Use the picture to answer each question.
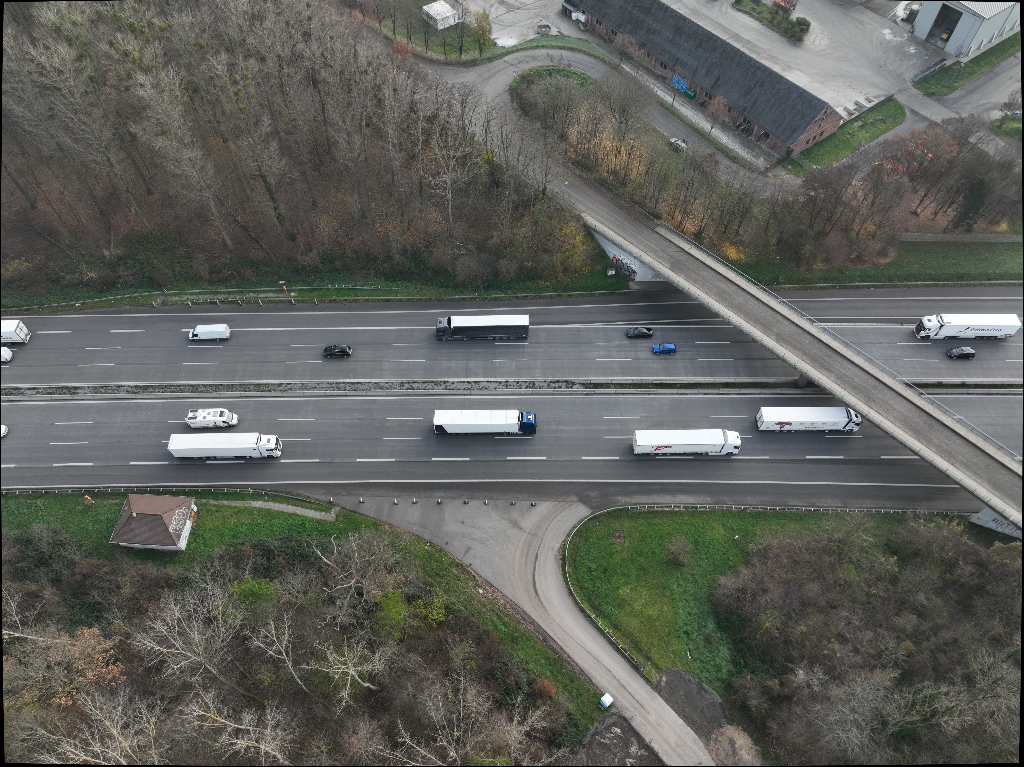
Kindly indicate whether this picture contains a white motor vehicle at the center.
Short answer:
Yes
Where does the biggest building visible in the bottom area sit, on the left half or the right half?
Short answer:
left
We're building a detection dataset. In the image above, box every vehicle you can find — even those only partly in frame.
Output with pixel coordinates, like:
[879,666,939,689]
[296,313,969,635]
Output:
[167,433,283,461]
[0,320,31,346]
[435,314,529,340]
[653,342,677,355]
[755,407,866,434]
[323,346,351,358]
[0,425,9,437]
[434,410,538,437]
[626,326,654,338]
[949,346,977,359]
[0,349,13,361]
[913,313,1021,339]
[188,323,230,341]
[632,430,742,457]
[186,407,237,428]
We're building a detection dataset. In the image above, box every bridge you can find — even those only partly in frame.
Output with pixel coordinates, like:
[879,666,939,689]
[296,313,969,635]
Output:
[568,165,1024,541]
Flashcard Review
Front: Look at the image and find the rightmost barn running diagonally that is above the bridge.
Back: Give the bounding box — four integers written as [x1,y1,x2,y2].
[563,0,847,155]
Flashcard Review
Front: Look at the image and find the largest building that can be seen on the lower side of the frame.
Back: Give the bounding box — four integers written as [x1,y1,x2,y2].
[109,494,199,551]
